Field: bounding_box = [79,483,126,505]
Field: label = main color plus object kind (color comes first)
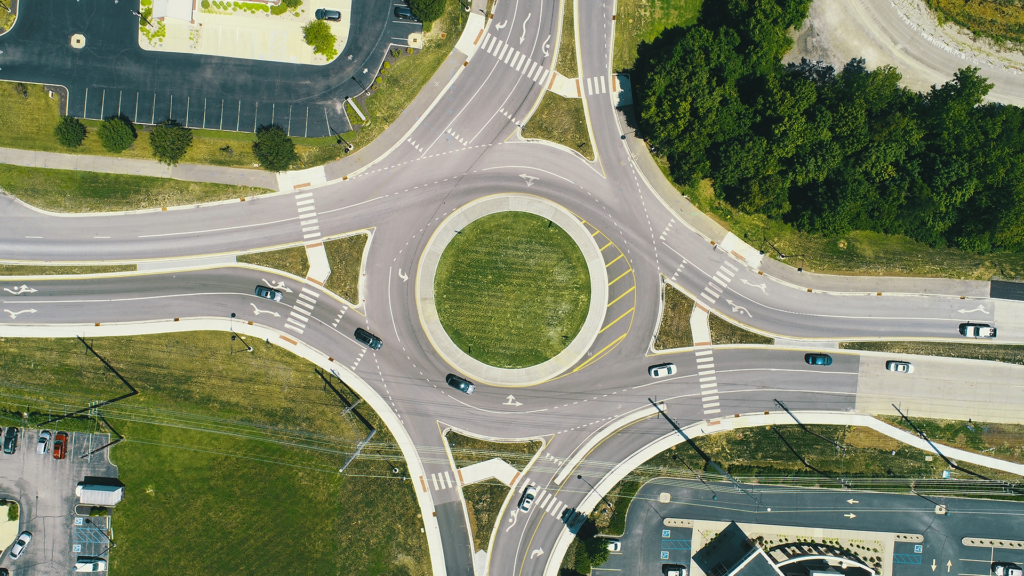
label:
white truck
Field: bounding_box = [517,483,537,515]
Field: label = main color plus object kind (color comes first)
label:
white car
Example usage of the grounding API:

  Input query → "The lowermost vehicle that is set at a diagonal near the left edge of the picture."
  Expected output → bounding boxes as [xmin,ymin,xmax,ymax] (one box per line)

[8,529,35,561]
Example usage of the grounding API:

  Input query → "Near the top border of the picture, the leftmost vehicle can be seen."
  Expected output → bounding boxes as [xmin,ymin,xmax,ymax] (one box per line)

[314,6,343,23]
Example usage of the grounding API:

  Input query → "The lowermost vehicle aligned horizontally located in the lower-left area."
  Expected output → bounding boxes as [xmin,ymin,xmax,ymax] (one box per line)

[68,555,113,575]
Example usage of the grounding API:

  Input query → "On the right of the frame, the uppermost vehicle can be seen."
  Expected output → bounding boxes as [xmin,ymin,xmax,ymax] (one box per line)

[961,323,1000,338]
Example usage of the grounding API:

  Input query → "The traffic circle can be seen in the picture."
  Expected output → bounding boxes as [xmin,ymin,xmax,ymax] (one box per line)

[362,140,663,439]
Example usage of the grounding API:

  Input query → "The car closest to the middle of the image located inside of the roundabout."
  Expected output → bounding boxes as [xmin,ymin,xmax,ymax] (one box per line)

[444,373,476,395]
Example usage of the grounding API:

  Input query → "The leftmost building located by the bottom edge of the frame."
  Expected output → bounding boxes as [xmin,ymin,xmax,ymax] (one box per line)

[702,536,784,576]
